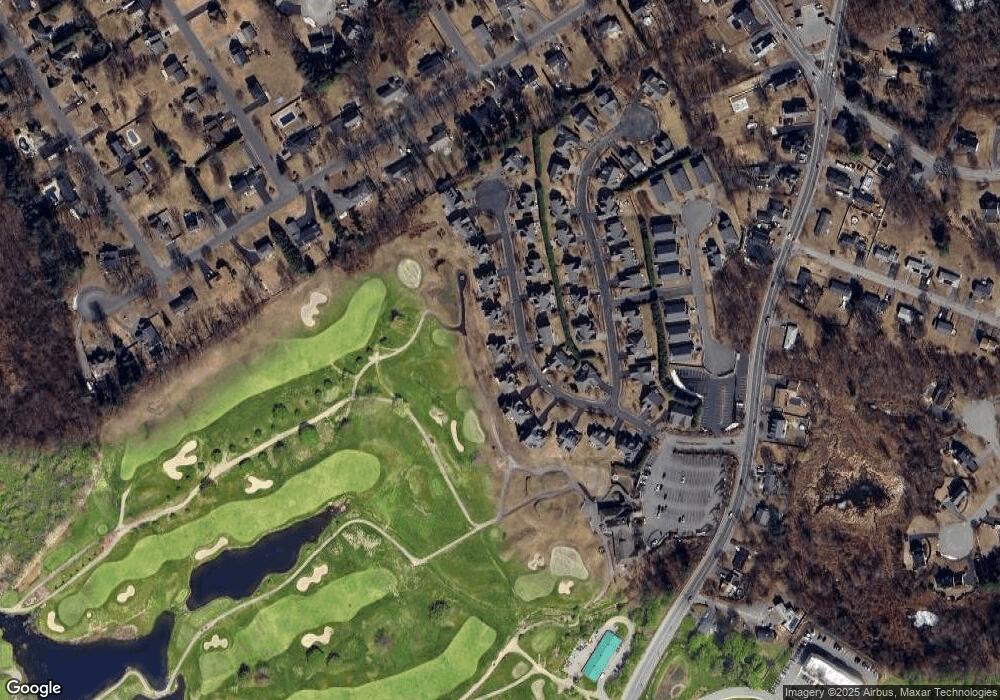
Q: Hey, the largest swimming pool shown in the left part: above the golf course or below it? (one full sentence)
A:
The position of the largest swimming pool shown in the left part is above the golf course.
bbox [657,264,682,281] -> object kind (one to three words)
house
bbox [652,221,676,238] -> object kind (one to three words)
house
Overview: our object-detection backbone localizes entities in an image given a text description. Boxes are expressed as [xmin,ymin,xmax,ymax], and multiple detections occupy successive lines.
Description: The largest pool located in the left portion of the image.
[273,105,301,131]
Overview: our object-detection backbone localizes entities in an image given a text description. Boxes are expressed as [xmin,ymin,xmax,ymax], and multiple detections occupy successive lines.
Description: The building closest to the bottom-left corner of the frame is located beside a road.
[89,350,119,369]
